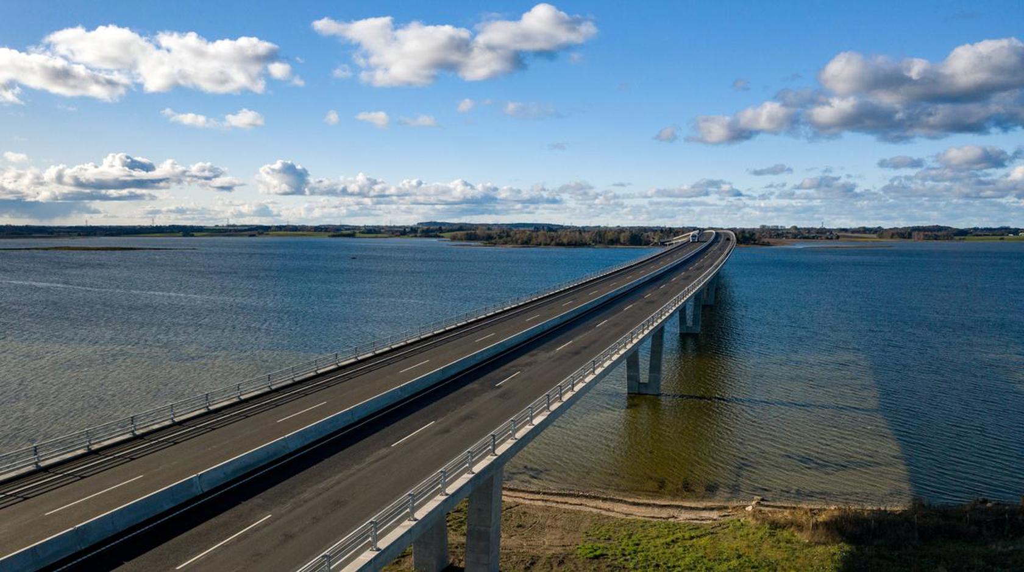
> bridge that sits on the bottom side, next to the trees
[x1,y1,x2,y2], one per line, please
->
[0,231,737,572]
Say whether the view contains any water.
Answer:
Yes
